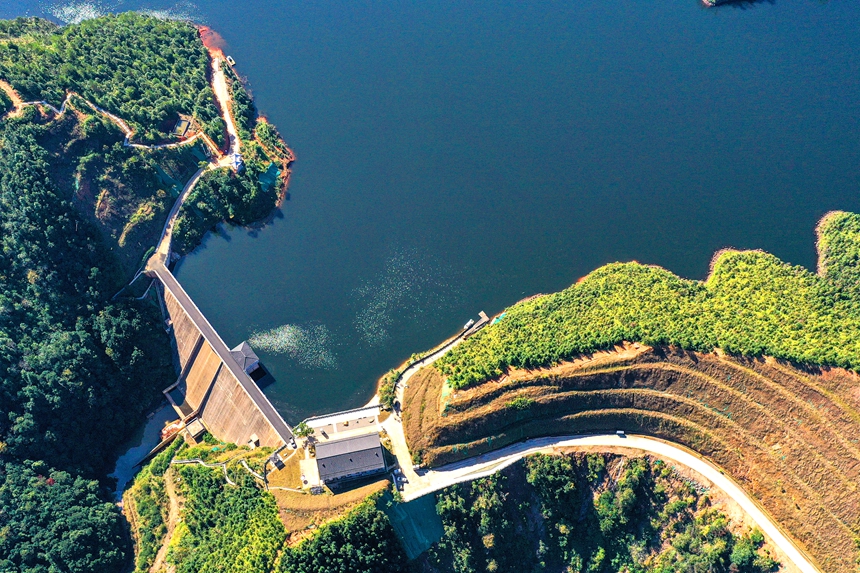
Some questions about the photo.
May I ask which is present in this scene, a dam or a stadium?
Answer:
dam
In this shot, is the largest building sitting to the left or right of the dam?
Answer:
to the right of it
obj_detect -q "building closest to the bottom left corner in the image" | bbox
[186,418,211,441]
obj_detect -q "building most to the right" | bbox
[317,434,384,477]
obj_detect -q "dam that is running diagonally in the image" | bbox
[154,263,295,450]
